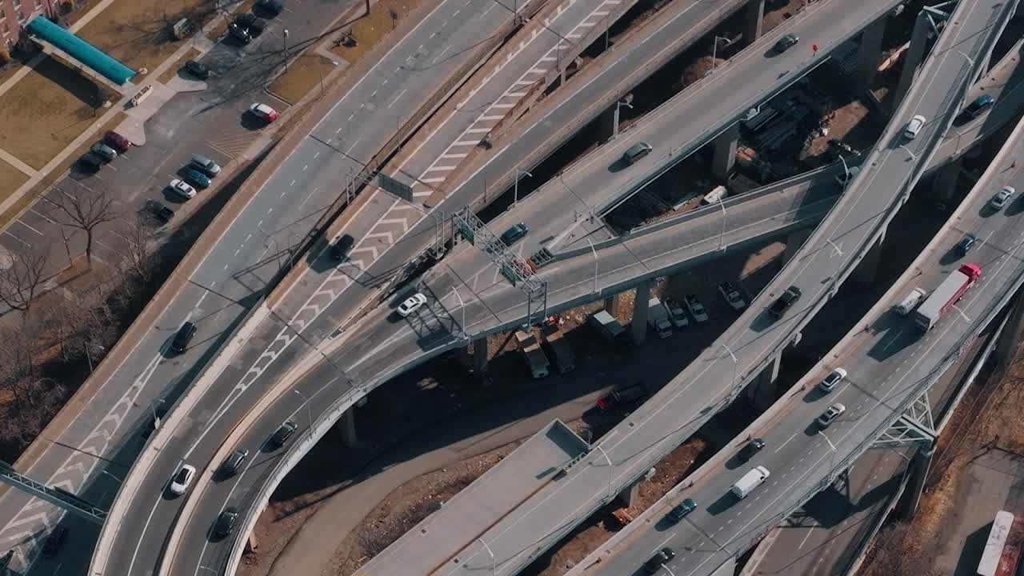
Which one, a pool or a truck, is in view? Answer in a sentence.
I can see a truck in this picture.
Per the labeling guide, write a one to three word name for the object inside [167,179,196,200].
car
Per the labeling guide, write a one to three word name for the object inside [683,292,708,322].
truck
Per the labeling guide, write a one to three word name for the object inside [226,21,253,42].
car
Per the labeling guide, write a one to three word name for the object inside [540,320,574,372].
truck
